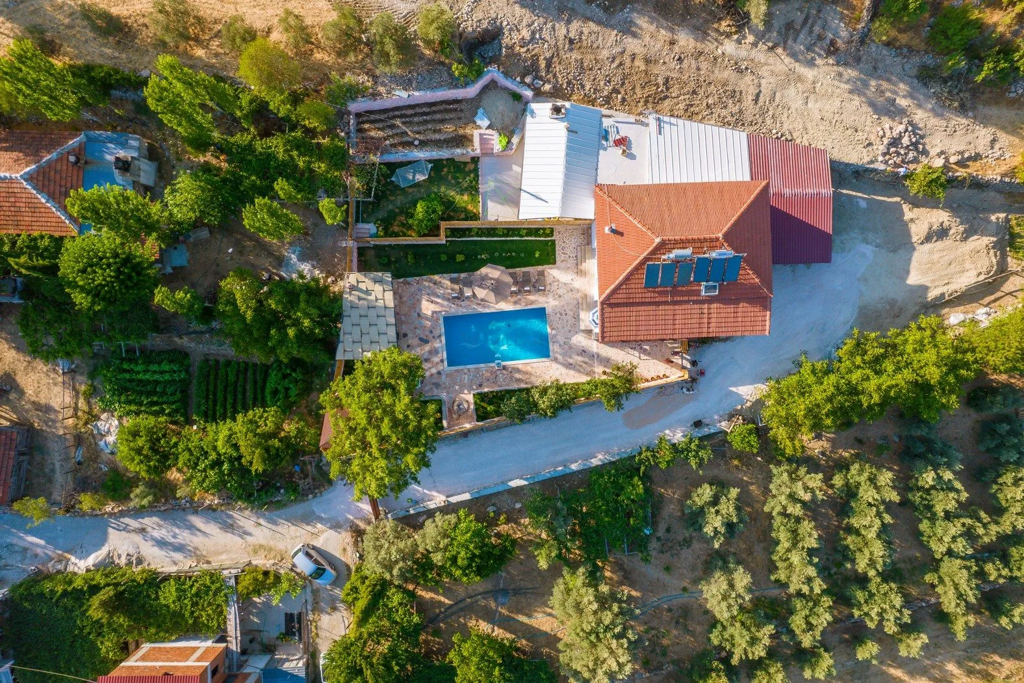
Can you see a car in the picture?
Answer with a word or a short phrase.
Yes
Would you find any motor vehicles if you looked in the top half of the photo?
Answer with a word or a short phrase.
No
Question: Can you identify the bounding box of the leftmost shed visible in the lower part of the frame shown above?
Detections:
[0,425,38,507]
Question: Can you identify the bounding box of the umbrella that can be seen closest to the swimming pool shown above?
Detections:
[472,263,513,304]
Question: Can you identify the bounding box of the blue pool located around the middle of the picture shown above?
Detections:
[440,304,553,371]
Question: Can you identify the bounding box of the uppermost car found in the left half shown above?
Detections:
[289,543,337,585]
